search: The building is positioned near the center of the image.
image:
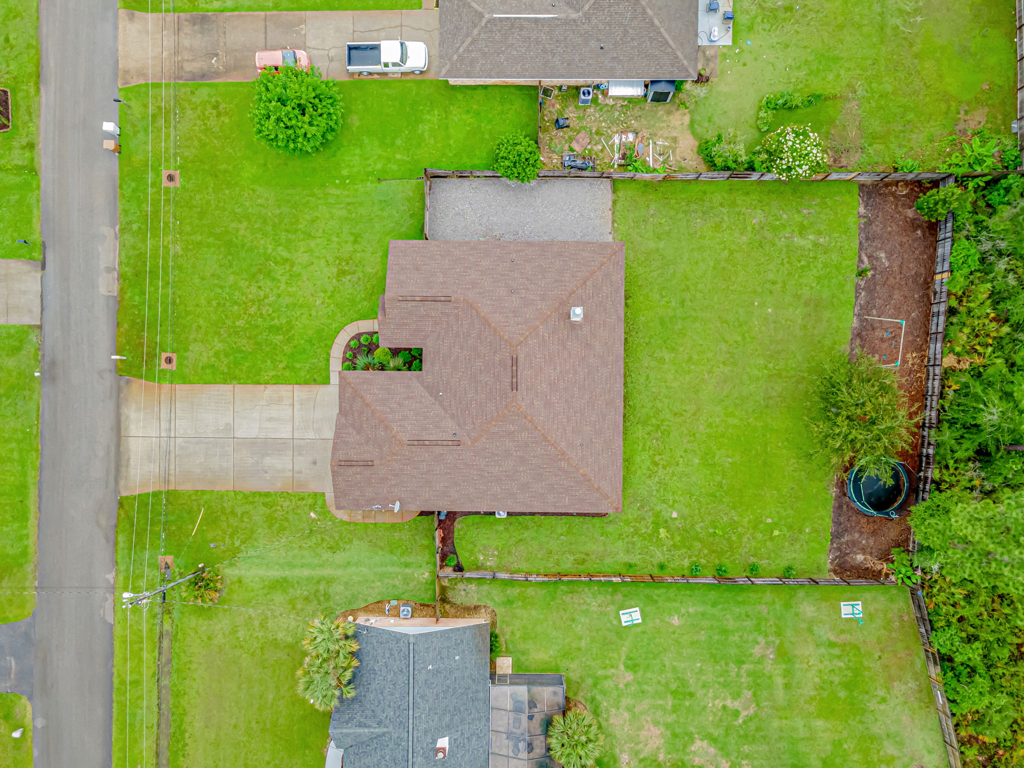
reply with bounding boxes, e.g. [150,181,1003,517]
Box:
[331,240,625,513]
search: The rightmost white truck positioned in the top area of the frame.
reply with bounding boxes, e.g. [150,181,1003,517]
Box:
[346,39,429,75]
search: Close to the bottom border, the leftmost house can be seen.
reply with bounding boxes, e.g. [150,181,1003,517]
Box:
[326,617,491,768]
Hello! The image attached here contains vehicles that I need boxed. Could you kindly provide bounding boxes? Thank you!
[346,39,429,75]
[255,46,310,75]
